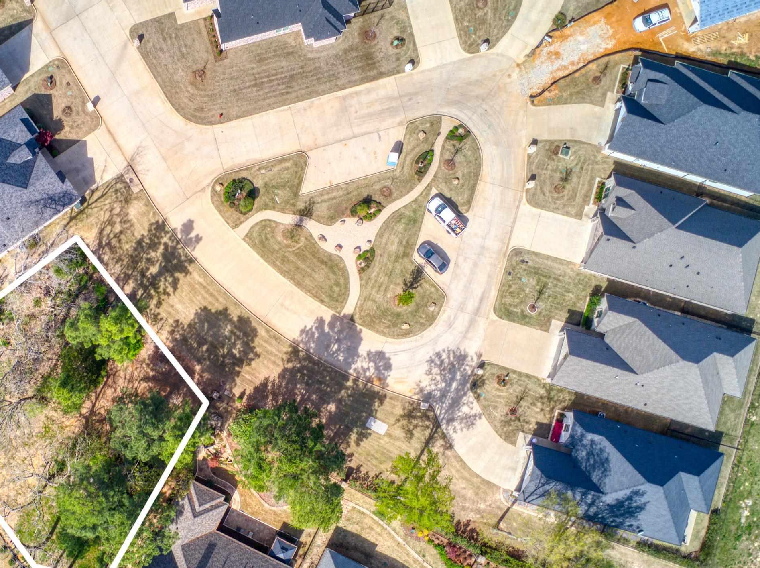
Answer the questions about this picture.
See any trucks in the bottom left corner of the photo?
No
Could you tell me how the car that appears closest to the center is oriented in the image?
on a diagonal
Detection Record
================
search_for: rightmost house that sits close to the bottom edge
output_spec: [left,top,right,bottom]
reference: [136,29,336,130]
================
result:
[510,409,724,547]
